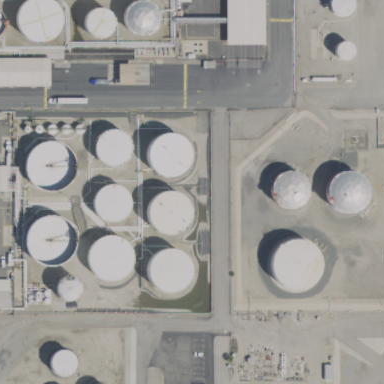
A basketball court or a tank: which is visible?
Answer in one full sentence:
Visible in the photo is a tank.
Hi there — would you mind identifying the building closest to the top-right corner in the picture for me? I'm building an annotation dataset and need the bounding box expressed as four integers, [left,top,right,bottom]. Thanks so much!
[226,0,266,46]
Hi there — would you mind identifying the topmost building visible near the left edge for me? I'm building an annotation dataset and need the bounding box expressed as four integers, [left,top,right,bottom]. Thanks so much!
[0,58,51,87]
